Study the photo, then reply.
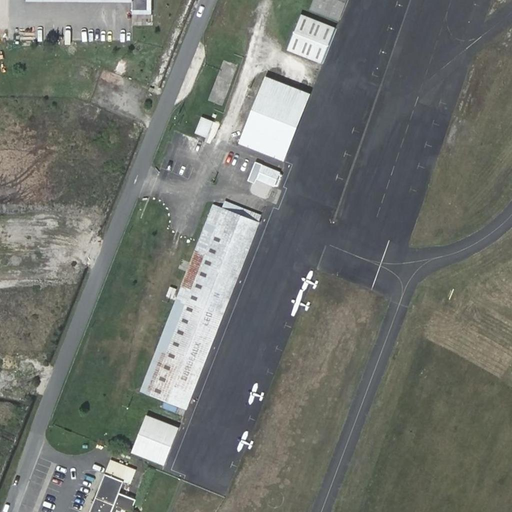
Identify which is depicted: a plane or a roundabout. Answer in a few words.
plane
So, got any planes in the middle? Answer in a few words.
Yes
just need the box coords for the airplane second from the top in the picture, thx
[290,290,311,316]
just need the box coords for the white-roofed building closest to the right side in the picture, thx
[286,13,338,68]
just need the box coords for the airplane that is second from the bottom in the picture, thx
[248,384,266,404]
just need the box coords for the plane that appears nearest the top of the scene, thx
[302,270,320,292]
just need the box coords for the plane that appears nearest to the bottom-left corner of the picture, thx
[237,431,256,452]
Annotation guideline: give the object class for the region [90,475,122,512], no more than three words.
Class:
building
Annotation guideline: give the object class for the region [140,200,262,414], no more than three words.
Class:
hangar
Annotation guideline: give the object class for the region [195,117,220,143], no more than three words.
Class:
shed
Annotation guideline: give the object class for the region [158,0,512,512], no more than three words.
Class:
airport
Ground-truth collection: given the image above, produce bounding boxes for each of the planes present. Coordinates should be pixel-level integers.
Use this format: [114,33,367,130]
[237,431,256,452]
[248,384,266,404]
[302,270,320,292]
[290,290,311,316]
